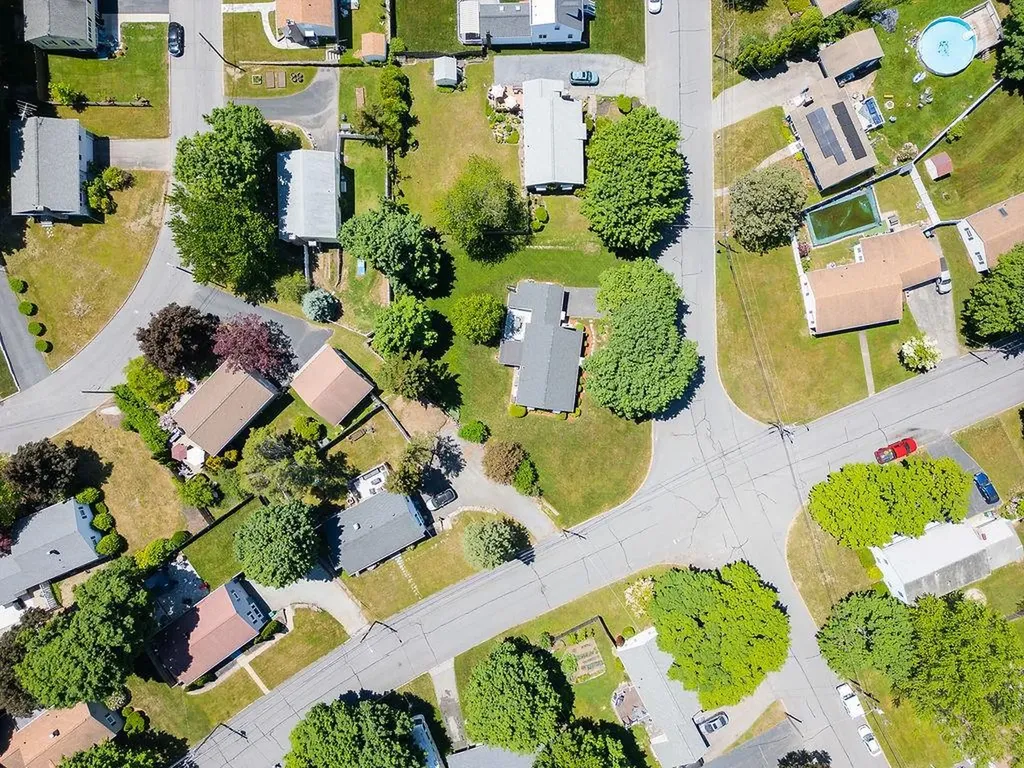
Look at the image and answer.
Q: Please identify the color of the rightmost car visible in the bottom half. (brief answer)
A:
blue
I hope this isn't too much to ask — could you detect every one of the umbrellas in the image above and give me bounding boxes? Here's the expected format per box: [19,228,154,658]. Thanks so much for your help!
[503,95,518,110]
[189,446,207,465]
[490,85,506,102]
[174,443,190,459]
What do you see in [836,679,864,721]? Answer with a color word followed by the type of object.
white truck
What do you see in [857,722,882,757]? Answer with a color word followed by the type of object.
white car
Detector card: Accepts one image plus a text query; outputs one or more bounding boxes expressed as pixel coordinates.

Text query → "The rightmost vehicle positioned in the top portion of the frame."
[936,256,955,296]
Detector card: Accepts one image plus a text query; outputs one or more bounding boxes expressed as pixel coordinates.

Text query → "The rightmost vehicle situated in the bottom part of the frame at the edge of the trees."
[973,472,999,504]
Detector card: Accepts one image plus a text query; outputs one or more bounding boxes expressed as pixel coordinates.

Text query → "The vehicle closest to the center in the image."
[424,487,457,511]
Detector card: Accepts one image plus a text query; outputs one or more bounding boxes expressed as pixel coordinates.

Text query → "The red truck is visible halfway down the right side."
[873,438,918,464]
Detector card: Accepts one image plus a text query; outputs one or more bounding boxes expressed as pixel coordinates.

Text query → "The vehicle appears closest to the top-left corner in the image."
[167,21,185,58]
